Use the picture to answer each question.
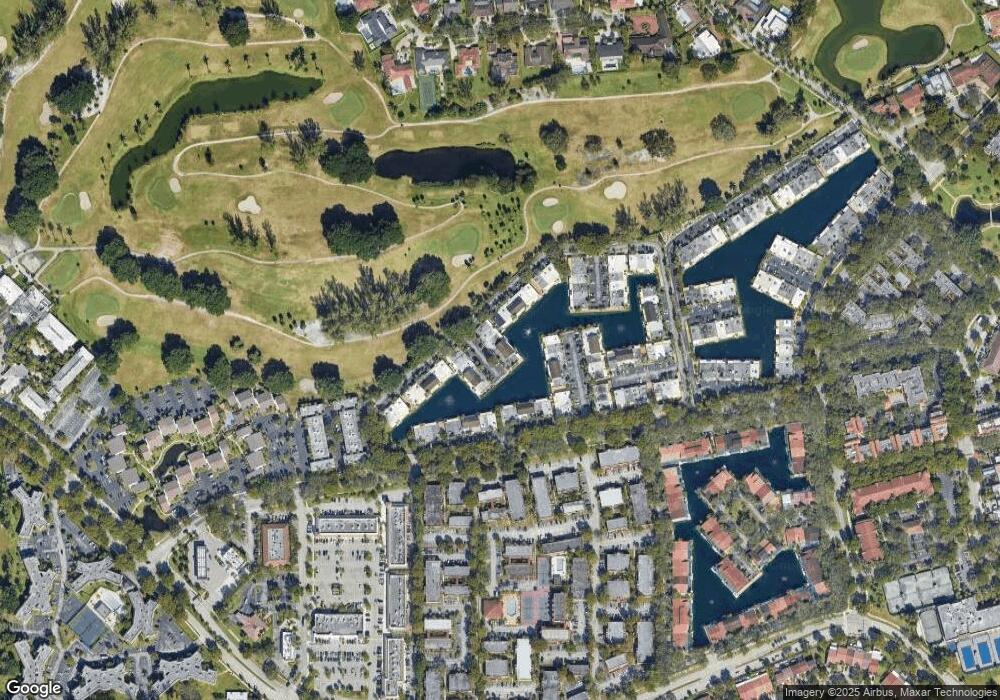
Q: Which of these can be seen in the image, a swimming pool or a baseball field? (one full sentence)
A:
Looking from above, you can make out a swimming pool.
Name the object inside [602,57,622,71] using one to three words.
swimming pool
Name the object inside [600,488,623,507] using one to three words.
building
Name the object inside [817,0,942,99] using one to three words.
pond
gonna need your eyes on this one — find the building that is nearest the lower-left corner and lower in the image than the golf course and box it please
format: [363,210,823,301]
[12,640,56,700]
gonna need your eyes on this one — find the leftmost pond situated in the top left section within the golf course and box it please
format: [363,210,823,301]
[111,71,320,208]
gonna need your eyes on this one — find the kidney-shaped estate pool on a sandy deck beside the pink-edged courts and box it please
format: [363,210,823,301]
[503,593,521,626]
